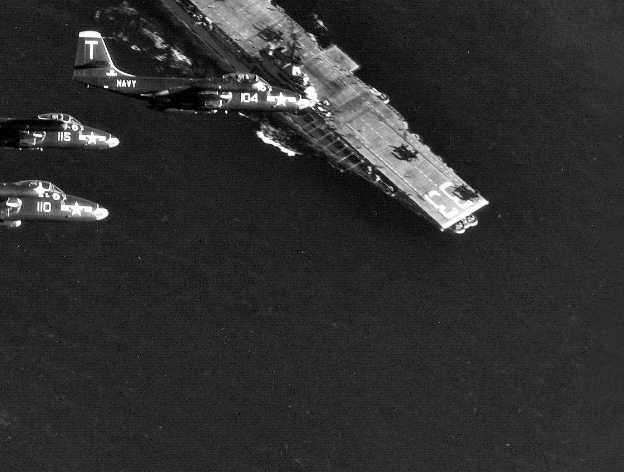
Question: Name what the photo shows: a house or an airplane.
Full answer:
Of the two, only an airplane appears.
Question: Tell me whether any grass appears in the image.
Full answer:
No, the picture contains no grass.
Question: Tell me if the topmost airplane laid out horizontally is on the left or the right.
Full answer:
The topmost airplane laid out horizontally is on the left side of the image.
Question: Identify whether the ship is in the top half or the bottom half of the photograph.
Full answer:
It is in the top half that the ship appears.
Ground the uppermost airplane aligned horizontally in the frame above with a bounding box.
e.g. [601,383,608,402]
[72,30,308,115]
